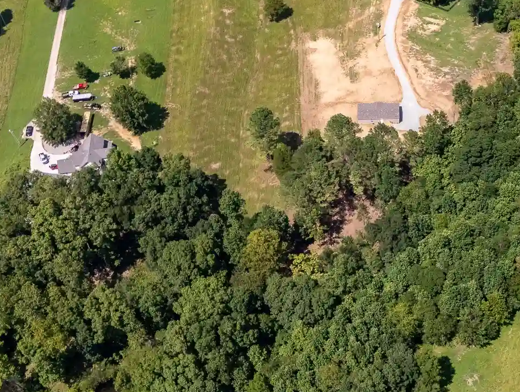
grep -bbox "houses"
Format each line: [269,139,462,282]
[358,100,399,127]
[57,136,111,177]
